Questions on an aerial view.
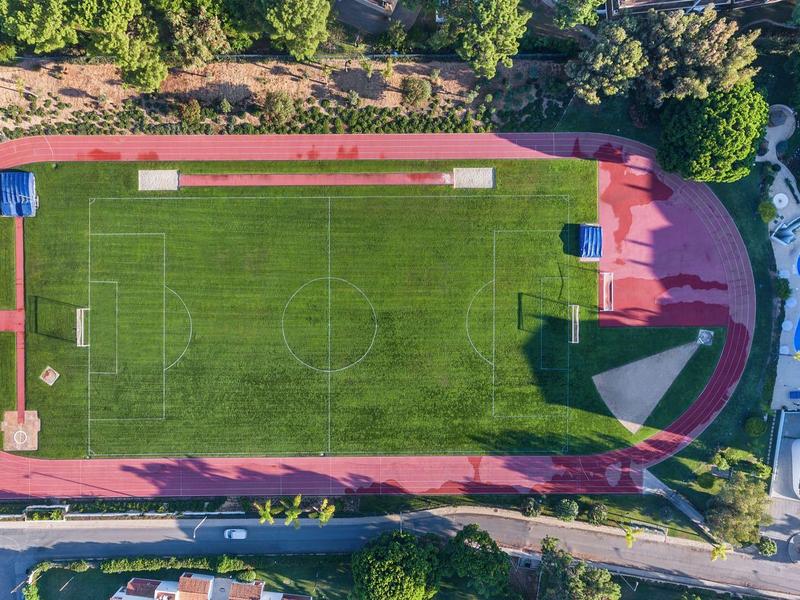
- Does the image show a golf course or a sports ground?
sports ground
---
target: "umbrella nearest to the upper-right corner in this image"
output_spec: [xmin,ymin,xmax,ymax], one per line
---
[770,193,788,208]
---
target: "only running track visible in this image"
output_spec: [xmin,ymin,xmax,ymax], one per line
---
[0,132,756,499]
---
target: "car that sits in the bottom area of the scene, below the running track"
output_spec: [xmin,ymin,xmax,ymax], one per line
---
[223,529,246,541]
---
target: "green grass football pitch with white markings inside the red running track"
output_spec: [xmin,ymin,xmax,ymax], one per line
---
[74,188,580,456]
